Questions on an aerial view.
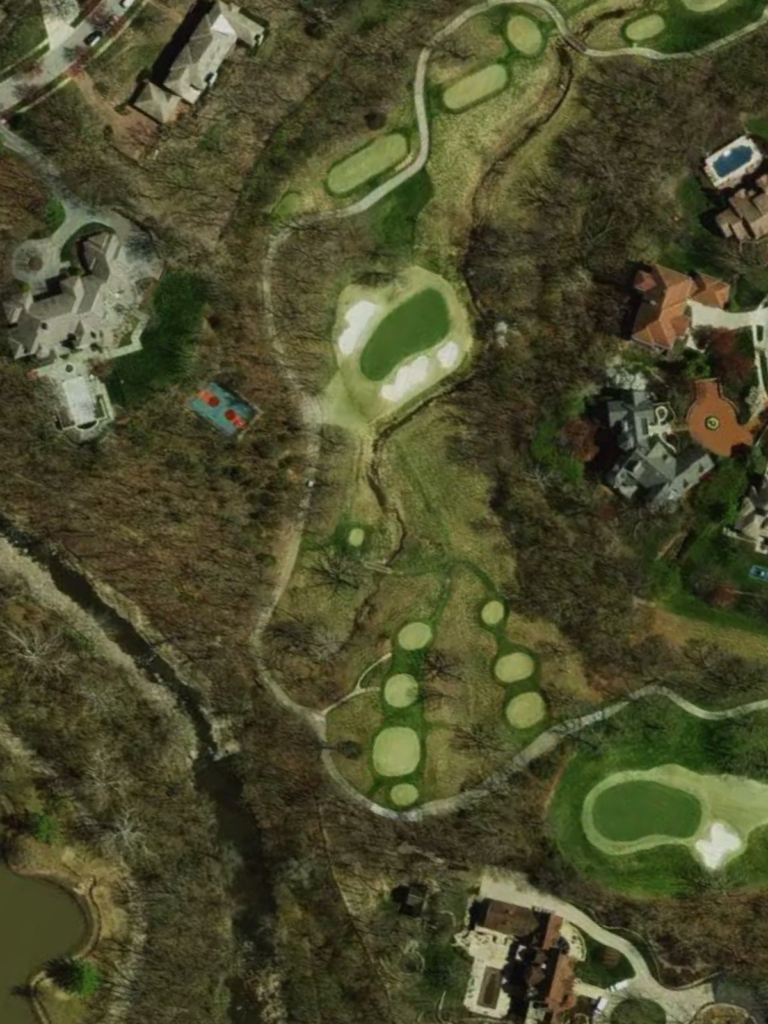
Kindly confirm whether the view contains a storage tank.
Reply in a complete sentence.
No, the frame has no storage tank in it.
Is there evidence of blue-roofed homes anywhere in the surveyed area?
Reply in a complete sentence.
No, this view has no blue-roofed home in it.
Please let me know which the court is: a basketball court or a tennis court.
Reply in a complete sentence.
From above, the court can be identified as a basketball court.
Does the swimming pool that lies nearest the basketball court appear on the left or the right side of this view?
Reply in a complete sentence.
The swimming pool that lies nearest the basketball court sits on the left side.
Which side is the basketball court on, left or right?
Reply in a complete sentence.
The basketball court appears in the left half of the scene.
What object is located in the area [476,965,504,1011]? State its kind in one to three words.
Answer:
swimming pool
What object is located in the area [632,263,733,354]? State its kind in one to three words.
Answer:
house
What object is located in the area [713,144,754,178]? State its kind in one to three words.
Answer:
swimming pool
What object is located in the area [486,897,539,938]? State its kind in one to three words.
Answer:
building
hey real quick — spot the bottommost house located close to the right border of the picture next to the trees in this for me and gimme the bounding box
[729,475,768,548]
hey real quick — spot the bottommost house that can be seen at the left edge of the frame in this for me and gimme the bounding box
[3,230,123,361]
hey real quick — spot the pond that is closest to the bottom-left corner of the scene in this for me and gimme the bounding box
[0,863,87,1024]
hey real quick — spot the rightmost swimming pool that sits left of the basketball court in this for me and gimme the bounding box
[61,376,97,427]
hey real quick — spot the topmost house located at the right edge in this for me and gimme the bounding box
[715,178,768,244]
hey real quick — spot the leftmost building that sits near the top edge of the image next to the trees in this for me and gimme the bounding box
[129,0,268,124]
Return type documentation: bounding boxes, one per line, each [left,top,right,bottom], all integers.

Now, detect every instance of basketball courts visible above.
[192,380,258,439]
